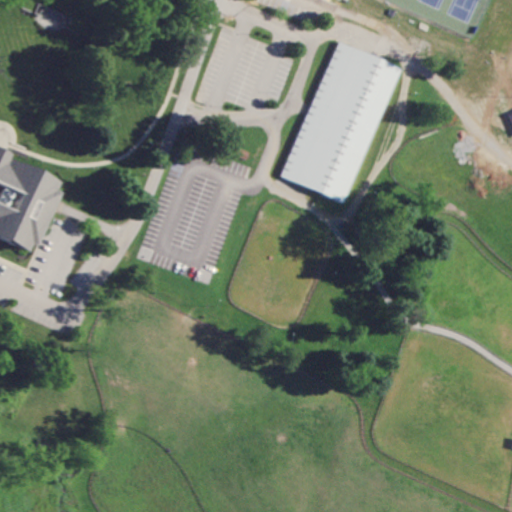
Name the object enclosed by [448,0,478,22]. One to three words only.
tennis court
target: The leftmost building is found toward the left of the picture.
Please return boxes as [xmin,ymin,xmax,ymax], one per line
[0,146,62,252]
